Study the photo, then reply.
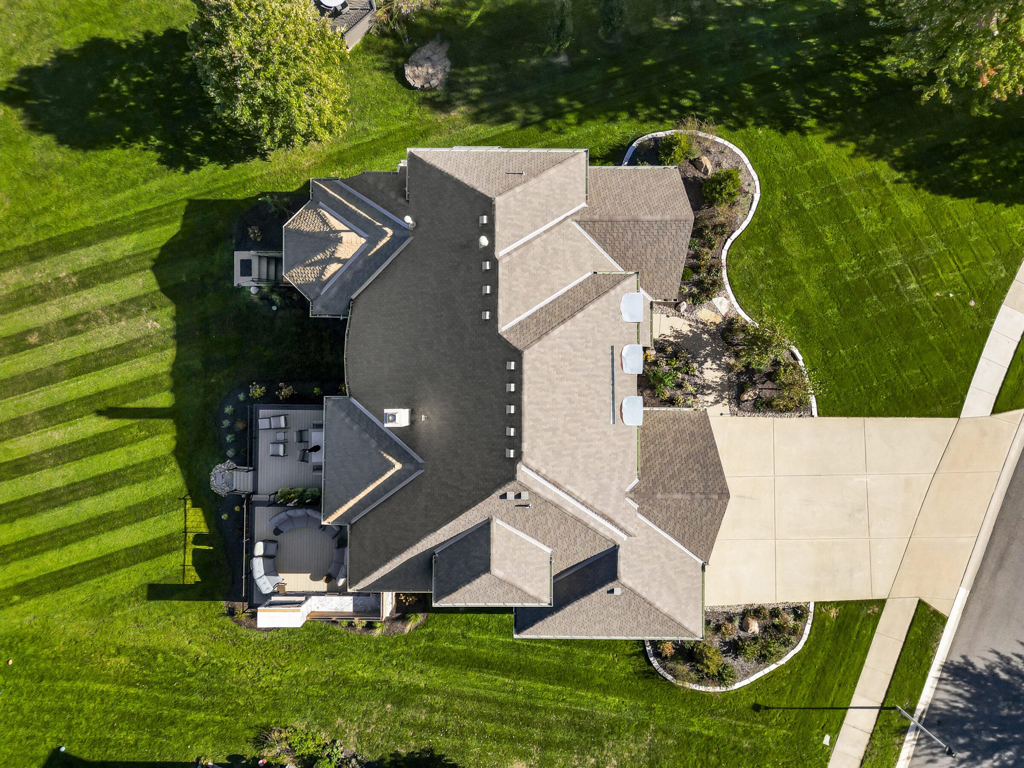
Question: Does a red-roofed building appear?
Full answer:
No, there isn't any red-roofed building down there.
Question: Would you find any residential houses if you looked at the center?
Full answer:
Yes, there is a residential house at the center.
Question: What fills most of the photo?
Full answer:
Most of the picture is covered by grass.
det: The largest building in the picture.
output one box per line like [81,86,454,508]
[281,145,730,642]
